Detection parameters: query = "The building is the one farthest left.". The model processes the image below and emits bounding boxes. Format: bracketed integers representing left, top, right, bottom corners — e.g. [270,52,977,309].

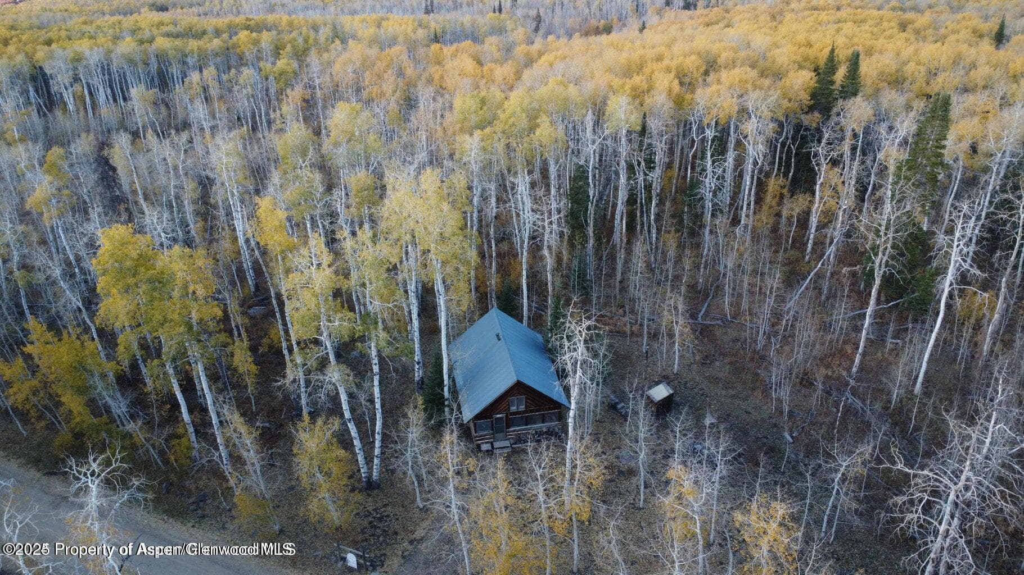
[451,306,569,450]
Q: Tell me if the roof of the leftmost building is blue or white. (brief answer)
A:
blue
